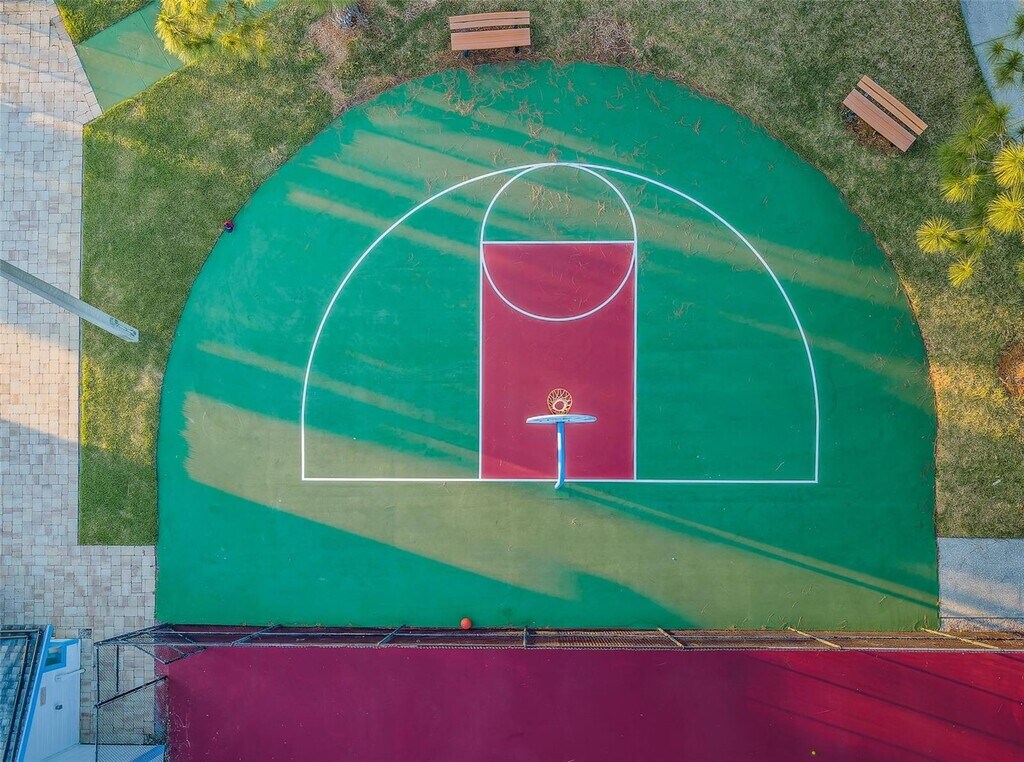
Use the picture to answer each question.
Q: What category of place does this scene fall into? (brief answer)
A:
sports ground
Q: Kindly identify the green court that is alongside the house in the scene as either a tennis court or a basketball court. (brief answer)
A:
basketball court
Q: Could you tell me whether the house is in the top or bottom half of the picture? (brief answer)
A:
bottom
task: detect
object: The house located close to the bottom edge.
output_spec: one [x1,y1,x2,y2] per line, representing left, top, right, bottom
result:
[0,623,163,762]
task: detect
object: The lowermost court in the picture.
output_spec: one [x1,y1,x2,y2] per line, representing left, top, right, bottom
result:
[153,628,1024,762]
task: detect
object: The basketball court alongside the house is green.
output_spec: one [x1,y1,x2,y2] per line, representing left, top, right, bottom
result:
[155,60,941,627]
